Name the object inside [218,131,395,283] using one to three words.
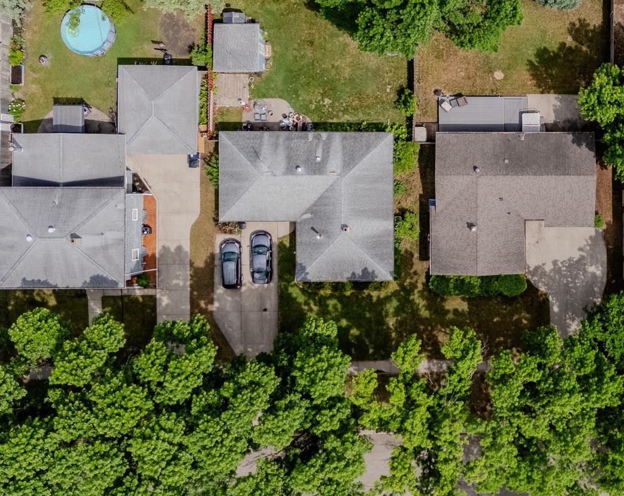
house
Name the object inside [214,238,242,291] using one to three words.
car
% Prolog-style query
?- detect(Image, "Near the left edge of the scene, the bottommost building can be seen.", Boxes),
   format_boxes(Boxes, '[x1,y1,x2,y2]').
[0,132,149,289]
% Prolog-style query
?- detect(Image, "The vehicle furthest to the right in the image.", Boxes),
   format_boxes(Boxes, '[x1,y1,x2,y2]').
[244,231,272,286]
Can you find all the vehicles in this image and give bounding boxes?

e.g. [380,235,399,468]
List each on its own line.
[244,231,272,286]
[214,238,242,291]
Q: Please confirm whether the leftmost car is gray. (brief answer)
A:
Yes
